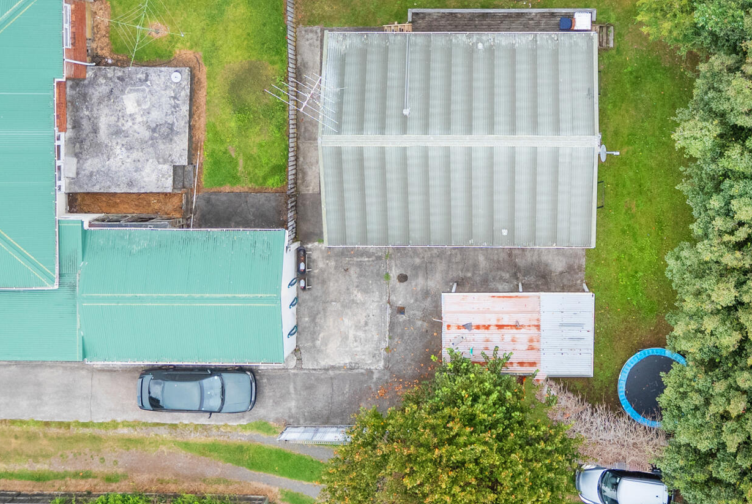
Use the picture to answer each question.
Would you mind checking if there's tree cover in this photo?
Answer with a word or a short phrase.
Yes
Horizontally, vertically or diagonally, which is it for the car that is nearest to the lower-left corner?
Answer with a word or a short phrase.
horizontally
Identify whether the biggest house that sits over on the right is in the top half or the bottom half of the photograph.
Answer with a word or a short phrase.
top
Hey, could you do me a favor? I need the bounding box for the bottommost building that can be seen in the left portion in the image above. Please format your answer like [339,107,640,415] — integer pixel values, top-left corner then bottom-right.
[0,220,299,366]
